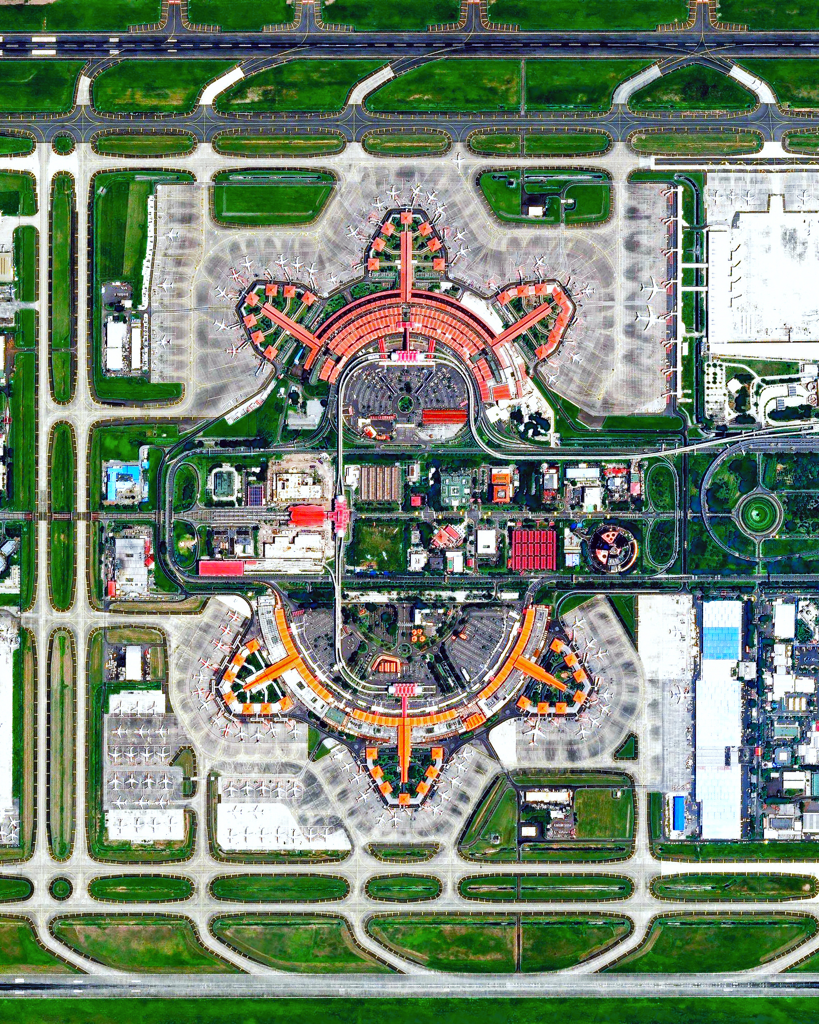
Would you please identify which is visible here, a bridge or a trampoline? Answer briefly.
bridge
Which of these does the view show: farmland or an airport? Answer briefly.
airport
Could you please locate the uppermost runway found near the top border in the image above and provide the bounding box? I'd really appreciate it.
[0,30,819,60]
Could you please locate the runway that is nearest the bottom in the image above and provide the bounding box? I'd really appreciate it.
[0,973,819,999]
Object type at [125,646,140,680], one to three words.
hangar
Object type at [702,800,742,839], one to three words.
building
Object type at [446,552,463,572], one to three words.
building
